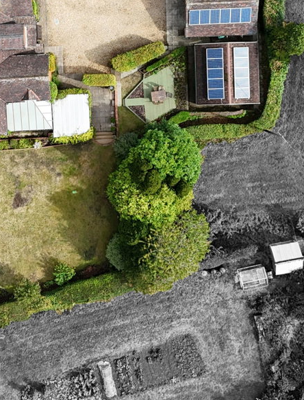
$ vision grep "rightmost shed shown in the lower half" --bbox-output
[268,240,303,273]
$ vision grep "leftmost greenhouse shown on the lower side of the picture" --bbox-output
[234,263,269,290]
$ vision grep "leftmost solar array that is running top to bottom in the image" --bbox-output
[206,47,225,100]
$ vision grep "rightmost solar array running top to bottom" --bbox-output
[233,46,250,100]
